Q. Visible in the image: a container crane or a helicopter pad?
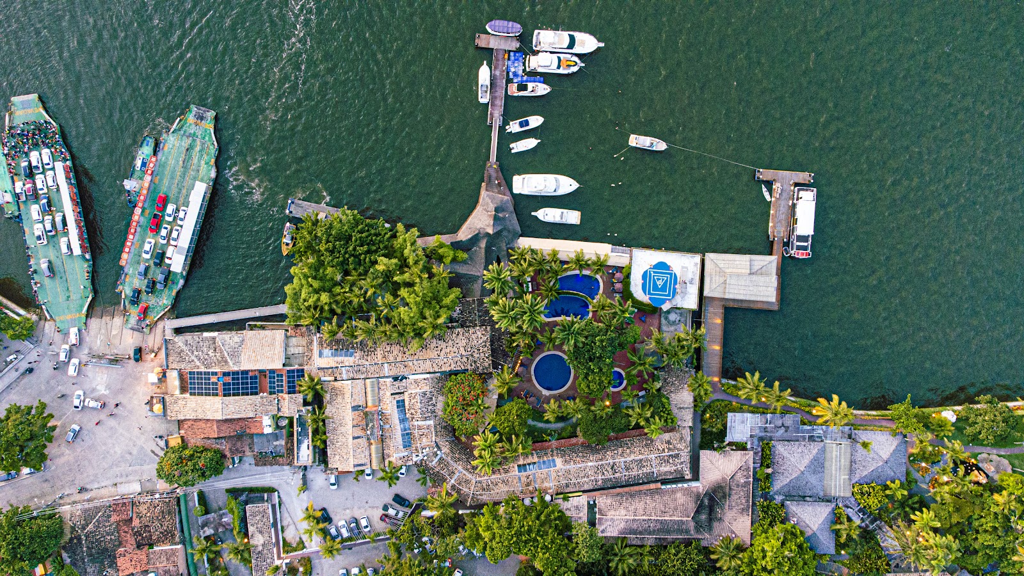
helicopter pad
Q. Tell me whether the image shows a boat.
Yes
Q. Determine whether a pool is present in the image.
Yes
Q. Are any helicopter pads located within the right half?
Yes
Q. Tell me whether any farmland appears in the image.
No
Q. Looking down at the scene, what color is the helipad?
white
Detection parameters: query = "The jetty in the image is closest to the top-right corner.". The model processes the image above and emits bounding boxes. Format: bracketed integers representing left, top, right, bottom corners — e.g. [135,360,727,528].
[753,169,814,241]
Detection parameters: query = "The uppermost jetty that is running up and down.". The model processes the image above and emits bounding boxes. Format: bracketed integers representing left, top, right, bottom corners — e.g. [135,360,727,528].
[476,34,520,128]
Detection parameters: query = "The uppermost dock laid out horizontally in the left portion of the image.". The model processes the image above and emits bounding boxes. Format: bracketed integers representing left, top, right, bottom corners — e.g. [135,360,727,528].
[286,199,342,220]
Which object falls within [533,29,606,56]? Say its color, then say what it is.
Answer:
white boat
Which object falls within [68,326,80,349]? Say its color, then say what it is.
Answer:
white vehicle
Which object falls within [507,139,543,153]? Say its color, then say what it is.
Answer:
white boat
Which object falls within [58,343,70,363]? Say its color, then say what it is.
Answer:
white vehicle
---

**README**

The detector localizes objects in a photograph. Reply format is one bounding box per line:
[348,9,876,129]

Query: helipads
[630,248,702,311]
